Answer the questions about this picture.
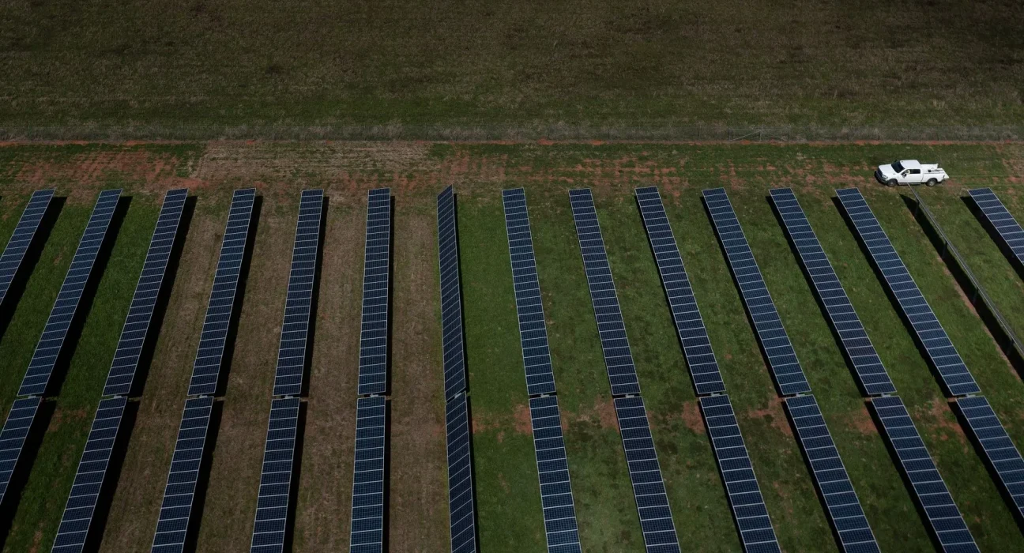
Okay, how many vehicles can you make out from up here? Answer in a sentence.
In total, 1 vehicle can be seen.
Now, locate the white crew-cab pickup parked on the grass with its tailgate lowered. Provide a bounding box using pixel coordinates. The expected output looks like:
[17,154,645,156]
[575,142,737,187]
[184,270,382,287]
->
[875,159,948,186]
